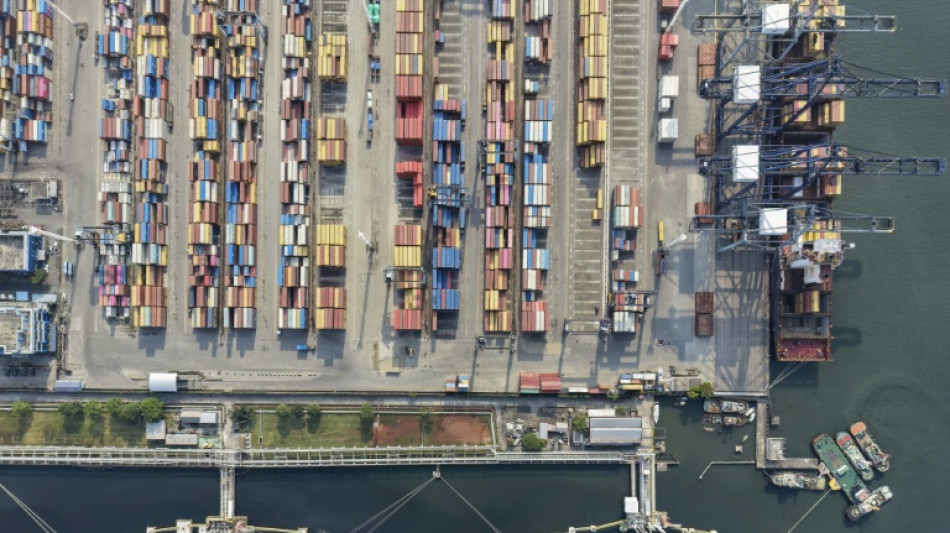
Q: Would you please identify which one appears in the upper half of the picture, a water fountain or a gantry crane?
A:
gantry crane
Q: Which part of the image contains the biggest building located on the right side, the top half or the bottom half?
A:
bottom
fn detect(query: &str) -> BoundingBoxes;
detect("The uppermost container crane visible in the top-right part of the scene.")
[694,0,900,85]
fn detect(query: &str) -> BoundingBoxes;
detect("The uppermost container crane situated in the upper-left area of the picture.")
[217,10,273,47]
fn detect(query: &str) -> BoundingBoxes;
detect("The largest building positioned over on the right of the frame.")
[588,417,642,444]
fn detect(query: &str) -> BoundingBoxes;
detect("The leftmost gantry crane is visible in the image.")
[78,225,143,250]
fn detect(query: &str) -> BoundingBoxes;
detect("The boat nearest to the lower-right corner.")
[846,487,894,519]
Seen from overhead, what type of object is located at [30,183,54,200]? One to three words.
building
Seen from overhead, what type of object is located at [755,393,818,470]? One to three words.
pier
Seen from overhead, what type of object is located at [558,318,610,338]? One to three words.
container crane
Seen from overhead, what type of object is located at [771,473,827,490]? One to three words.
boat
